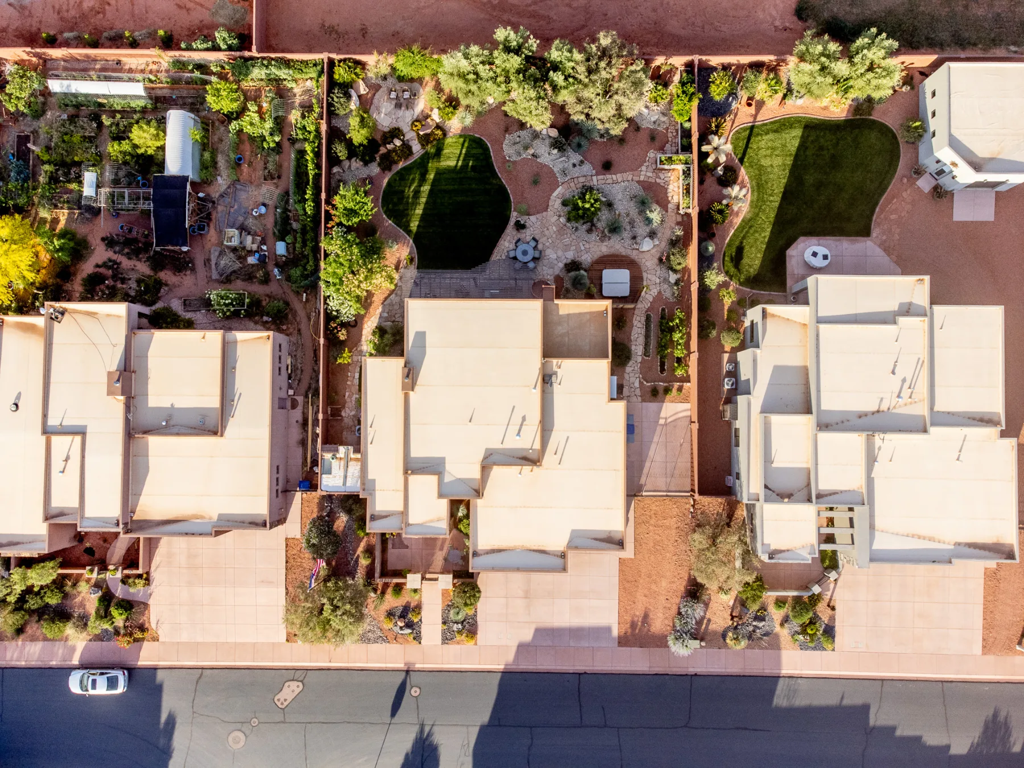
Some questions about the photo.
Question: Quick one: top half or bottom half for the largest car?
bottom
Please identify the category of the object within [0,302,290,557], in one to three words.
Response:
house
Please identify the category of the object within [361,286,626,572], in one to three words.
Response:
house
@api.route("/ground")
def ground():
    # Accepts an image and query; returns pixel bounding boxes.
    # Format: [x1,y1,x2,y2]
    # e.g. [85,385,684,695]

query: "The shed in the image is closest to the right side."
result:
[923,63,1024,186]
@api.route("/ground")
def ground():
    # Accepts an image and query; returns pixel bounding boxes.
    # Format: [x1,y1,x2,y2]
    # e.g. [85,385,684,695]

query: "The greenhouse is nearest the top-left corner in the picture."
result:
[172,111,208,187]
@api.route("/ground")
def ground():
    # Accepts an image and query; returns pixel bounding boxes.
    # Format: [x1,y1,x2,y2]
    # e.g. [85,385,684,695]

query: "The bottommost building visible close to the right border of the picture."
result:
[733,276,1017,568]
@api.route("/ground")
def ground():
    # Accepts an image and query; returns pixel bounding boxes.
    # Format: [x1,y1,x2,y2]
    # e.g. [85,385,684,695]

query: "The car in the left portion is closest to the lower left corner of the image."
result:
[68,669,129,699]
